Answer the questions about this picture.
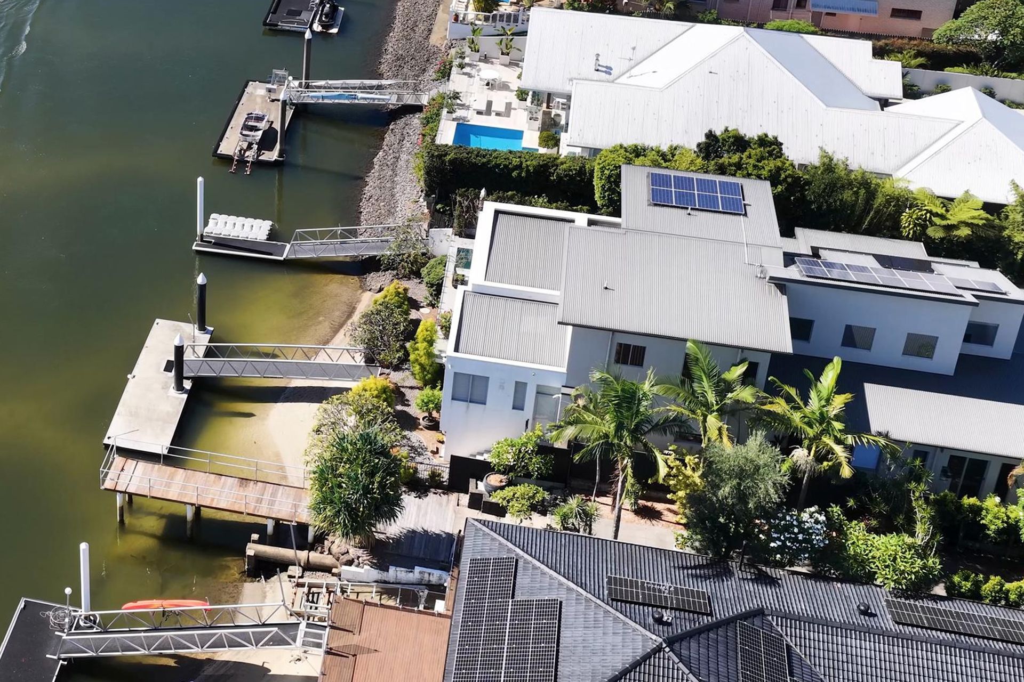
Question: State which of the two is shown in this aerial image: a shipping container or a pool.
pool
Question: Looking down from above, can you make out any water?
Yes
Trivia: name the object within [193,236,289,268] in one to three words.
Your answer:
pier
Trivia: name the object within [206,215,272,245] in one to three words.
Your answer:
pier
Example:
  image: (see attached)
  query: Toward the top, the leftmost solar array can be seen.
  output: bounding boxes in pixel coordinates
[651,172,745,214]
